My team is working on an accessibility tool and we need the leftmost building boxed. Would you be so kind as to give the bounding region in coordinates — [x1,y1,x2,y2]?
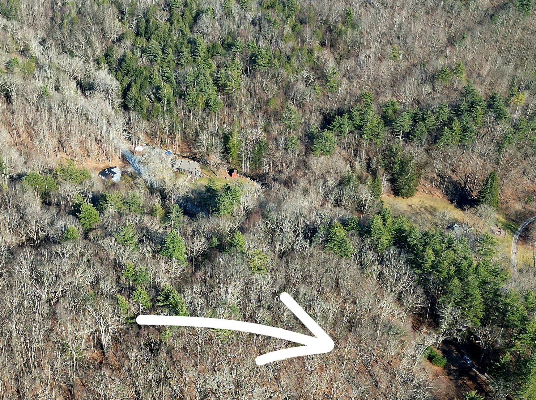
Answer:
[97,160,122,183]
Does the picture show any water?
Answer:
No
